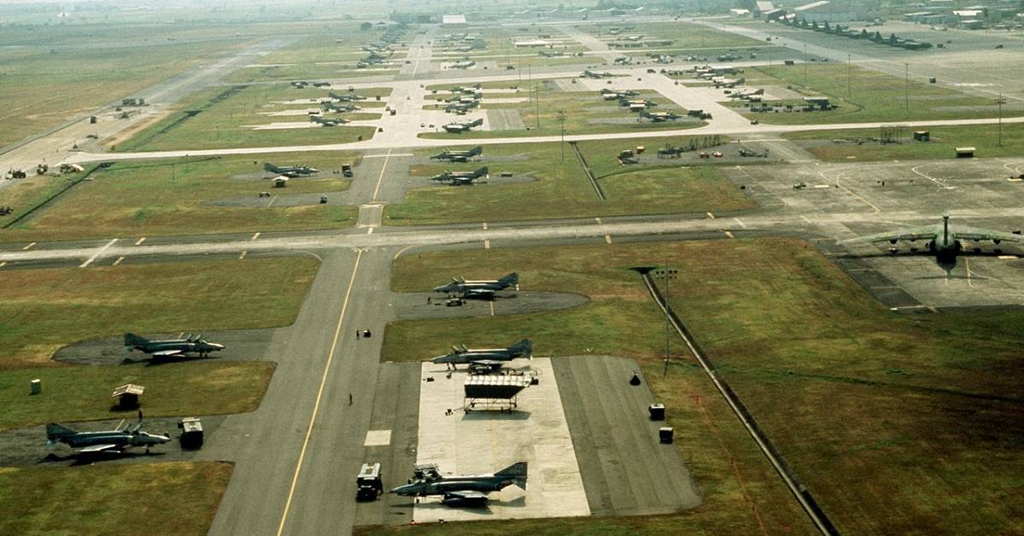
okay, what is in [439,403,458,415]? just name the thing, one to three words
vehicle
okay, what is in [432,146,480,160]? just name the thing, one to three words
airplane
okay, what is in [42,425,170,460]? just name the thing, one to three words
airplane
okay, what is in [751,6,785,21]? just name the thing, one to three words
hangar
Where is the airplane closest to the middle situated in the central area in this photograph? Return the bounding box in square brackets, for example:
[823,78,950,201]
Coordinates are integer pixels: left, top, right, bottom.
[434,272,518,297]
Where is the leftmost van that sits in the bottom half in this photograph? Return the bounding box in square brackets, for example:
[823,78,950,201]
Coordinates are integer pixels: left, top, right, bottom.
[176,413,205,442]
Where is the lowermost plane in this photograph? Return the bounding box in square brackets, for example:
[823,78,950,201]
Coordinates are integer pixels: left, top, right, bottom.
[389,463,528,507]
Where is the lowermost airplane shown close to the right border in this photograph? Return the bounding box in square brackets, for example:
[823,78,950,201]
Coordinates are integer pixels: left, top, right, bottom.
[830,218,1024,258]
